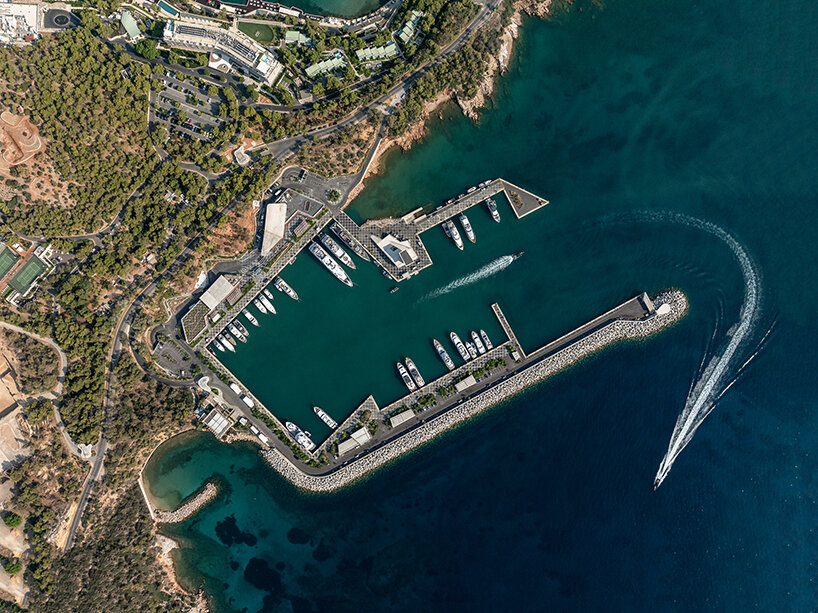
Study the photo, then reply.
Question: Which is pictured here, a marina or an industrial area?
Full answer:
It's a marina.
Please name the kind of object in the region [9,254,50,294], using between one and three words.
tennis court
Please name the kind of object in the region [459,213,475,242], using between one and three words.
boat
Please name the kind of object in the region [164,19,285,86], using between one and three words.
building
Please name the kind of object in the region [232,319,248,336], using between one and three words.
boat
